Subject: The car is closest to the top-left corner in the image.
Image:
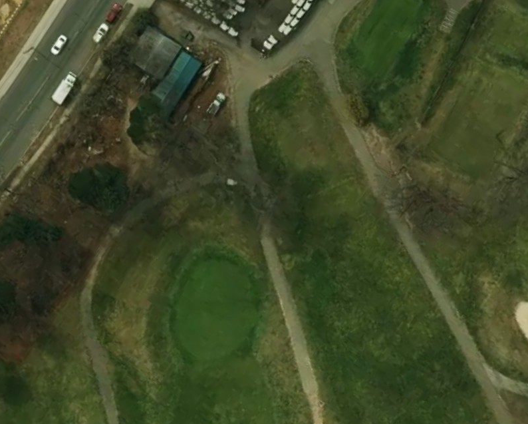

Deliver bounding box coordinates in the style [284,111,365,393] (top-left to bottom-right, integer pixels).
[52,34,68,56]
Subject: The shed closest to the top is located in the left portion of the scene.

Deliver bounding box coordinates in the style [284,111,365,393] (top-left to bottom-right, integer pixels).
[131,26,183,79]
